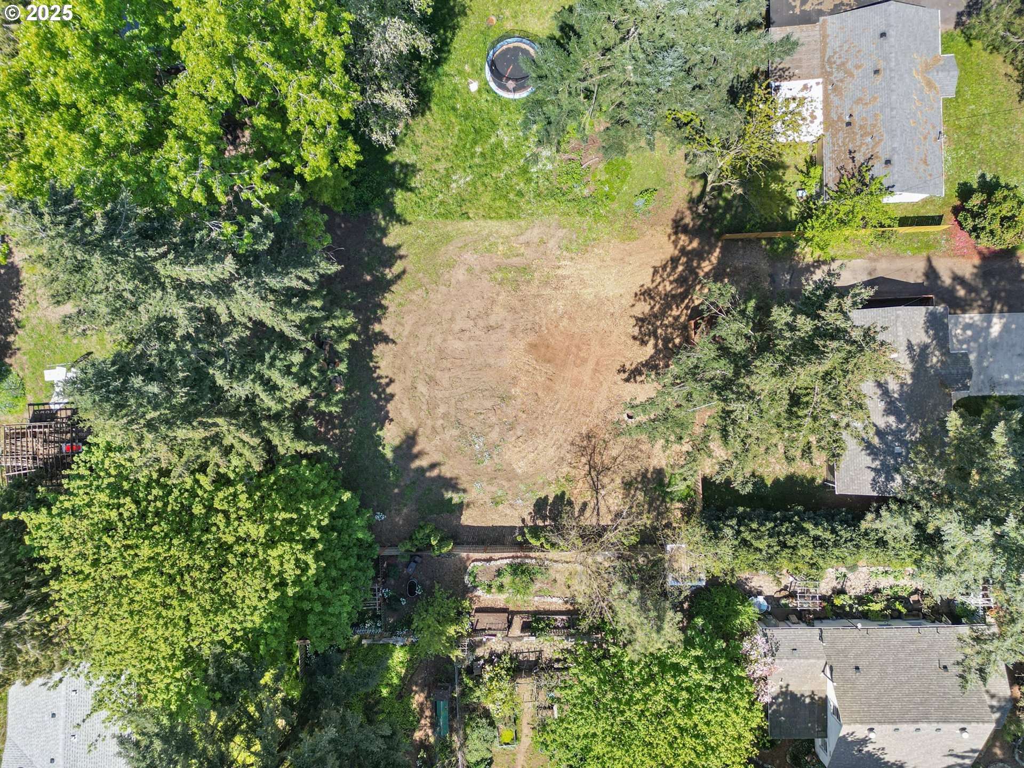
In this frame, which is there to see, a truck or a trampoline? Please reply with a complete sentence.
The one in the frame is a trampoline.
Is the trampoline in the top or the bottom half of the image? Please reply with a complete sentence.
The trampoline sits in the top half of the picture.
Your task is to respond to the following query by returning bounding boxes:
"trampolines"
[484,30,542,97]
